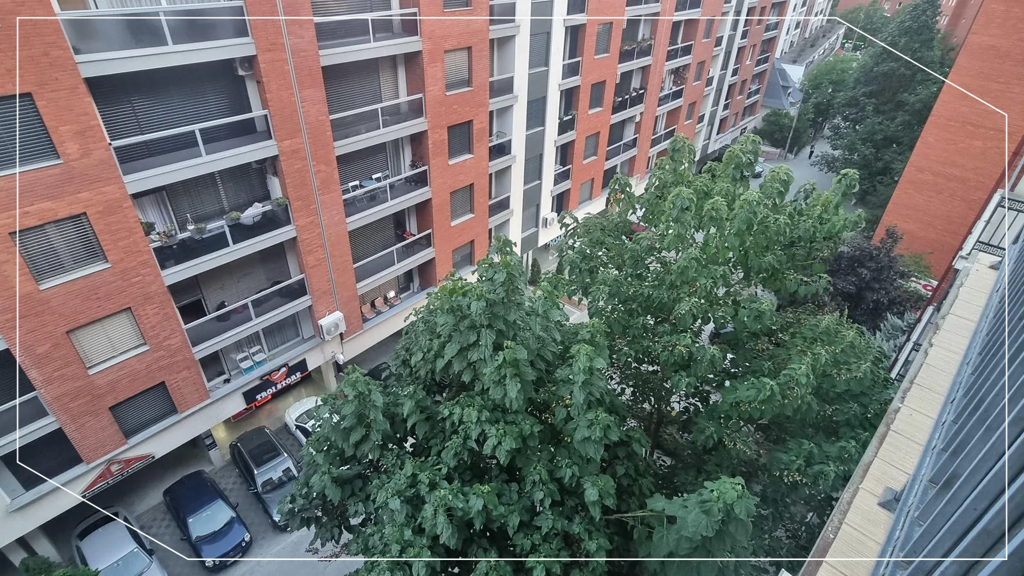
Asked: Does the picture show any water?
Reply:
No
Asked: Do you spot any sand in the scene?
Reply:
No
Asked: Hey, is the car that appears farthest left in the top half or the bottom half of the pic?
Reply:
bottom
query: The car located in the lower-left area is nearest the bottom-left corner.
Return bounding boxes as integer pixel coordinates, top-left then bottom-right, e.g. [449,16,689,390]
[82,507,163,576]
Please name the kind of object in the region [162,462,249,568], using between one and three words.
car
